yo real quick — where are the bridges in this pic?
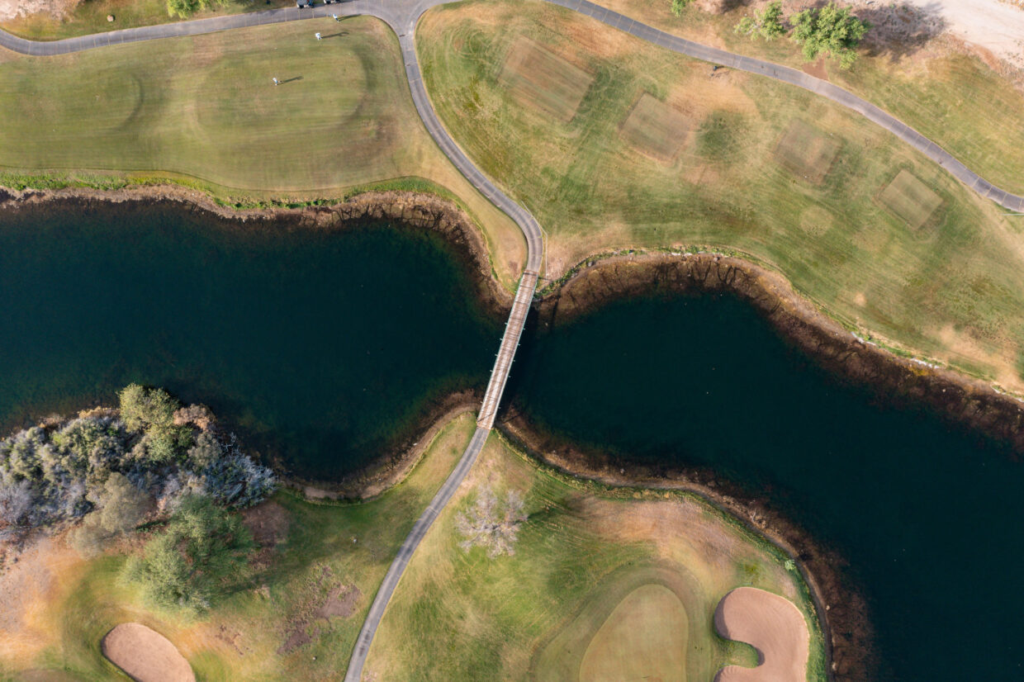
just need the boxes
[476,269,540,432]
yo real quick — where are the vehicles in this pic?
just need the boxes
[295,0,311,10]
[324,0,339,5]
